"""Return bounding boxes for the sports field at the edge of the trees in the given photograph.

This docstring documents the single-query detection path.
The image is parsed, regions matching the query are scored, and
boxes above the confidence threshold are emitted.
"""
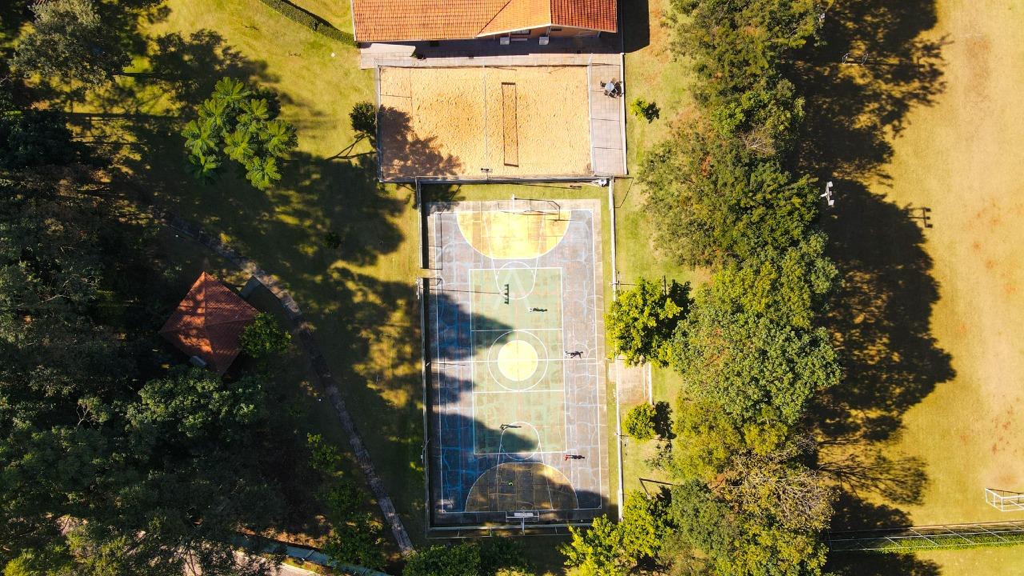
[872,34,1024,488]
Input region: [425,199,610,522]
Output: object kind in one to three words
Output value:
sports court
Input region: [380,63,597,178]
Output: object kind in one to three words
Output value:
sports court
